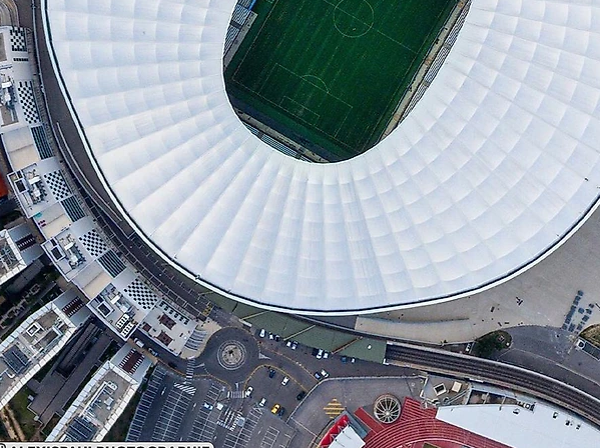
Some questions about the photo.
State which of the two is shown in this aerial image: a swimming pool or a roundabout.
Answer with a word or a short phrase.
roundabout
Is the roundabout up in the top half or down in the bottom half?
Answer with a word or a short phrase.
bottom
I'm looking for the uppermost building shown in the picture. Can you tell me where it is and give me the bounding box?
[0,26,45,134]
